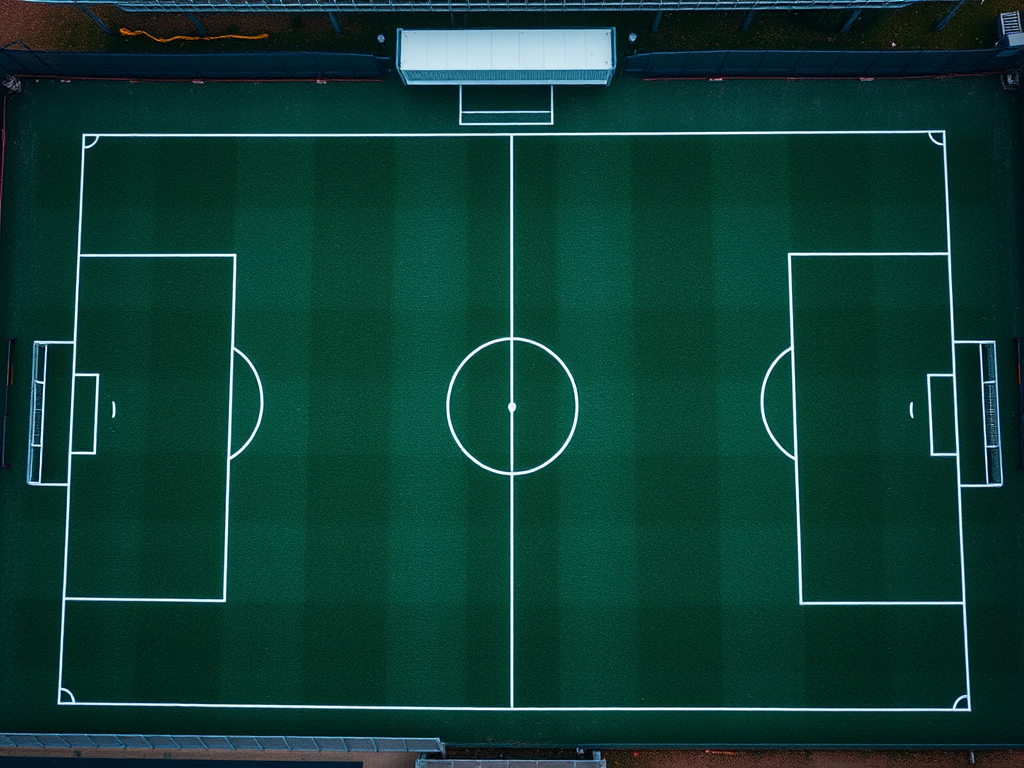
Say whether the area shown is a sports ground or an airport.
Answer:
sports ground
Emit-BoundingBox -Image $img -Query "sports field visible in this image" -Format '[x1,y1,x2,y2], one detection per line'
[60,132,968,708]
